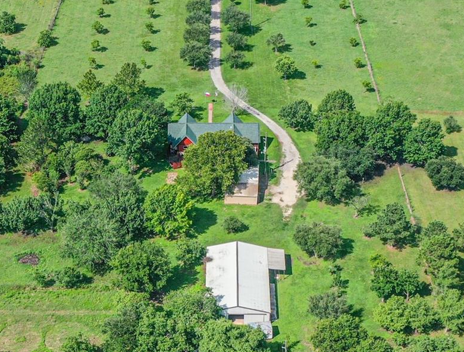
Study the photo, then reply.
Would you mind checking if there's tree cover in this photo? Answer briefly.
Yes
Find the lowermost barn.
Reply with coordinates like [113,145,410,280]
[206,240,286,331]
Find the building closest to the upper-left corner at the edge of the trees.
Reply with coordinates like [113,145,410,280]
[168,112,258,171]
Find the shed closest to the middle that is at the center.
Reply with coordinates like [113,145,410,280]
[224,166,258,205]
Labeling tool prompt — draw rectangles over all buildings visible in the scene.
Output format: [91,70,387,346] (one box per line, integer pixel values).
[206,240,286,331]
[224,166,258,205]
[168,112,258,171]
